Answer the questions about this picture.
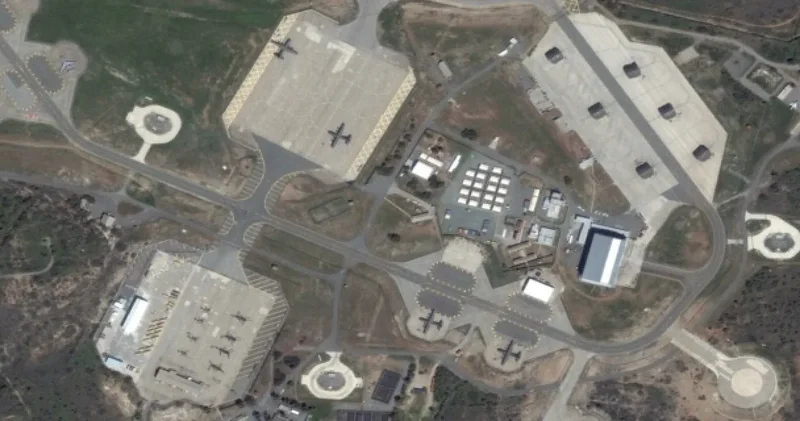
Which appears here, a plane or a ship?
plane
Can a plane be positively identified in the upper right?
No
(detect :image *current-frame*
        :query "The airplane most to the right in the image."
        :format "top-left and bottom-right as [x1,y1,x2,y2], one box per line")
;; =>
[498,339,519,365]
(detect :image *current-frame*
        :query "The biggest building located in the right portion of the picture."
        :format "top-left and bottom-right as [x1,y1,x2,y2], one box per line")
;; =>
[582,231,626,288]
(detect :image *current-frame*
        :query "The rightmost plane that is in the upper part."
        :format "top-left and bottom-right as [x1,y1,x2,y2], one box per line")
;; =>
[329,122,349,147]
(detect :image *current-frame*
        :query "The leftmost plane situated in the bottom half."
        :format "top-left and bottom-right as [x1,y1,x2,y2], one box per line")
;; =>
[420,308,441,333]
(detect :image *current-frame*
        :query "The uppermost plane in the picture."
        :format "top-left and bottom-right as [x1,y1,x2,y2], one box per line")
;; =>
[273,39,297,59]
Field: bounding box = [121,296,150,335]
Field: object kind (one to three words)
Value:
hangar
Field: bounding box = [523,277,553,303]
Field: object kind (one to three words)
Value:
hangar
